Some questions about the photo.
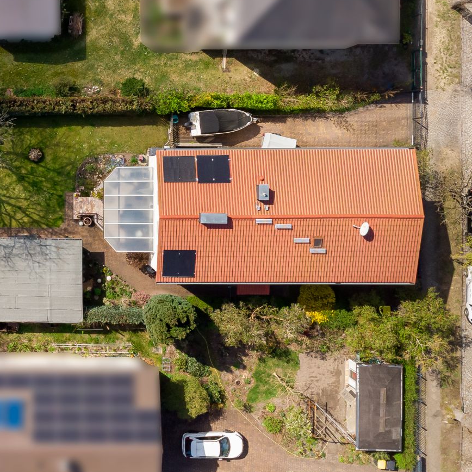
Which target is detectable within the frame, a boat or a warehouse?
boat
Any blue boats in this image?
No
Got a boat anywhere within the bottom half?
No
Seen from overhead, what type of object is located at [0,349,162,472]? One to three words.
house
